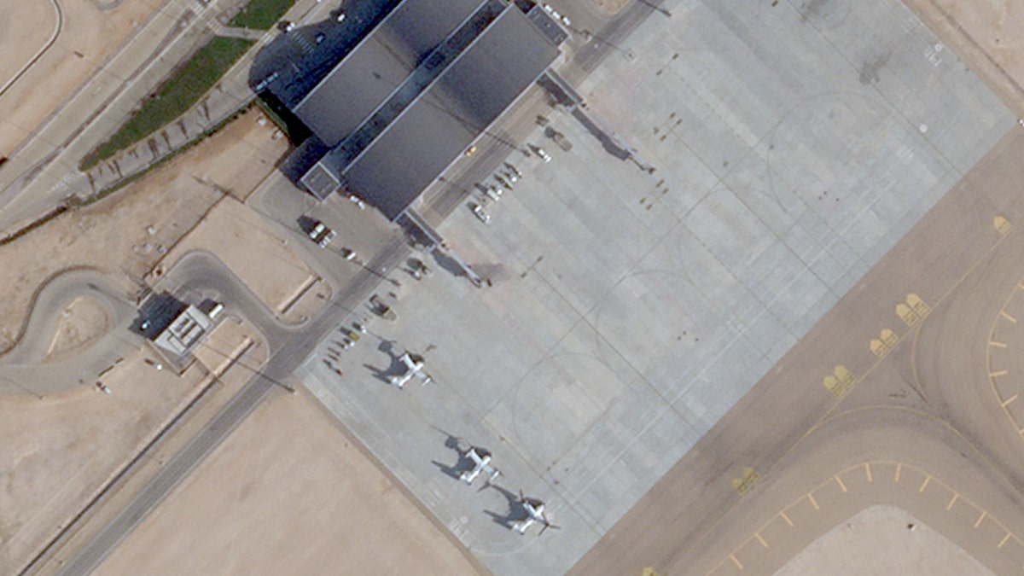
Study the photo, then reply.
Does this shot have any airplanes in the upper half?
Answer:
No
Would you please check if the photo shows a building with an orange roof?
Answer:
No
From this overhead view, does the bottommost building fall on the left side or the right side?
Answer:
left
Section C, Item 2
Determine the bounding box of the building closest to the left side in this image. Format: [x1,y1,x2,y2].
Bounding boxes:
[153,305,213,355]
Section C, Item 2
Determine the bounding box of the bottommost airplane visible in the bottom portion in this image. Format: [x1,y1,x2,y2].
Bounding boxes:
[510,487,561,538]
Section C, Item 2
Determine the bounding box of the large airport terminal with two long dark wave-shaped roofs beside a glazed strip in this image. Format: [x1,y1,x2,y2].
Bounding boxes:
[291,0,568,223]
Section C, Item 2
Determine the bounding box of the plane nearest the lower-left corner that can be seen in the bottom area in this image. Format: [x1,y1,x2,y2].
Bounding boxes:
[389,347,438,394]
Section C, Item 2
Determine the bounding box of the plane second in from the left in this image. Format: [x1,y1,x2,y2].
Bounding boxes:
[457,441,506,490]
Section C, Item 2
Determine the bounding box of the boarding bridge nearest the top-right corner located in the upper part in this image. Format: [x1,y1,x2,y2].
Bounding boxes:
[546,68,646,166]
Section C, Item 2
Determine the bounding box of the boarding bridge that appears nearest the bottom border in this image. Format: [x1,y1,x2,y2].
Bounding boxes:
[406,208,486,289]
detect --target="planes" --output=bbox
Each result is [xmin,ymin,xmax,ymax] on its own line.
[389,347,438,394]
[457,441,506,490]
[510,487,561,538]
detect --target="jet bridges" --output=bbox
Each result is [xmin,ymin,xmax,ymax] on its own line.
[406,208,486,289]
[546,68,646,166]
